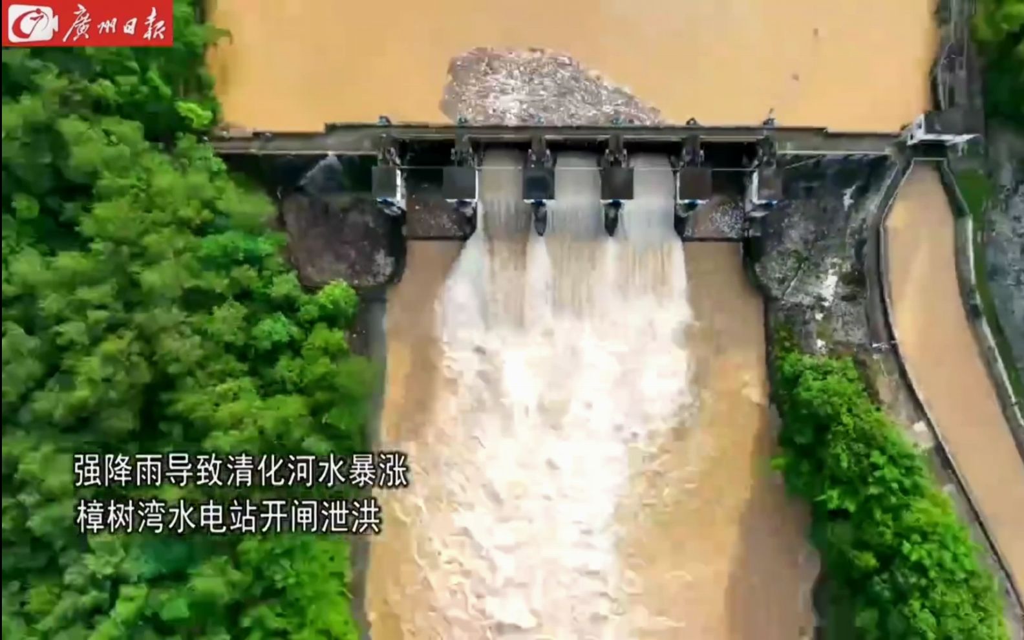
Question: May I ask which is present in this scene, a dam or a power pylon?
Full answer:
The one in the frame is a dam.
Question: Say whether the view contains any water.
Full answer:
Yes, there is water in the image.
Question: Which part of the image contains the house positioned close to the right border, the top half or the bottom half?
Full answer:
The top half of the photo is where the house positioned close to the right border is.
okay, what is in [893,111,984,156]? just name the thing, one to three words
house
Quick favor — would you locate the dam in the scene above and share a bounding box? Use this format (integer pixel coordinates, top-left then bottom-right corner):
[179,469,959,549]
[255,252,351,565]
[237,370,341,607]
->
[207,122,908,288]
